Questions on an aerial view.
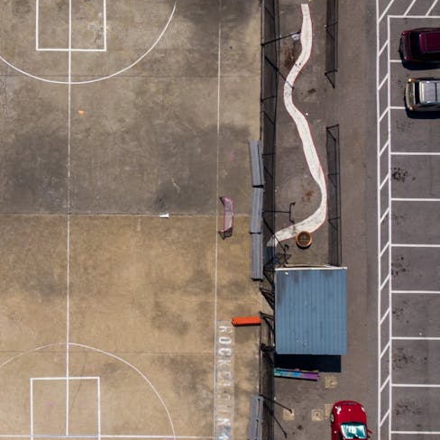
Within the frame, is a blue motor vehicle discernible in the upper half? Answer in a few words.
No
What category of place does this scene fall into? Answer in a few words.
sports ground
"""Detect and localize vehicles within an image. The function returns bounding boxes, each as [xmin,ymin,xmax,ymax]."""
[403,76,440,112]
[330,399,375,440]
[398,28,440,66]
